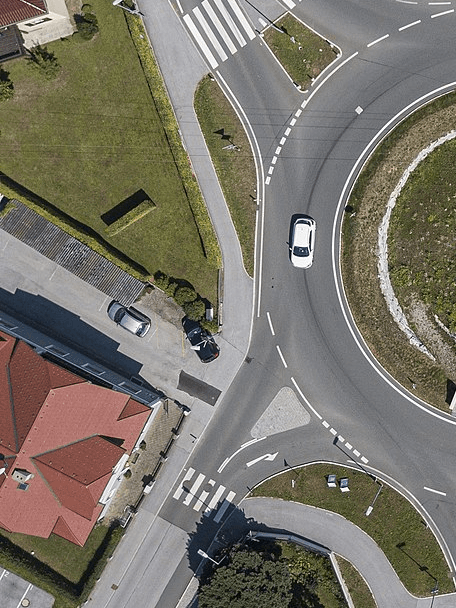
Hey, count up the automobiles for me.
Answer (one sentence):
Looking from above, you can make out 3 automobiles.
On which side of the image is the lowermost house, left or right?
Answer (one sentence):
The lowermost house appears in the left half of the scene.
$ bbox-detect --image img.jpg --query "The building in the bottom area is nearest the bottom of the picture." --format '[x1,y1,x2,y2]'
[0,313,162,546]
